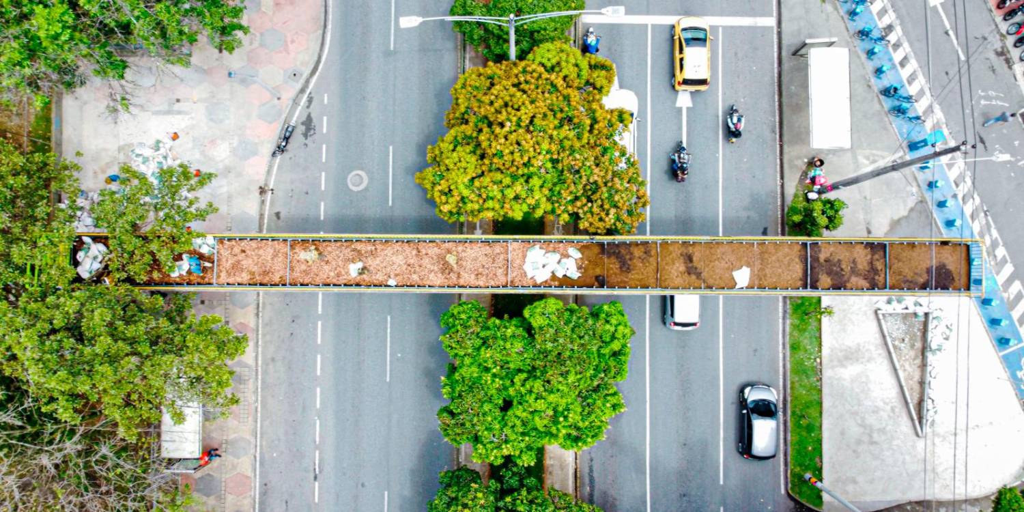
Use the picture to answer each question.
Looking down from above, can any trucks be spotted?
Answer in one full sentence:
No, the picture doesn't show any truck.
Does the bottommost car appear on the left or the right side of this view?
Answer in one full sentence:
It is on the right.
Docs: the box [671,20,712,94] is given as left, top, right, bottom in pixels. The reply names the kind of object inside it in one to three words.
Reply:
car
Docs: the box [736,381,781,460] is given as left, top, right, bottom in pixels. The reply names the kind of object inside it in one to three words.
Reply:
car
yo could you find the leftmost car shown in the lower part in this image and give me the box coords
[662,295,699,331]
